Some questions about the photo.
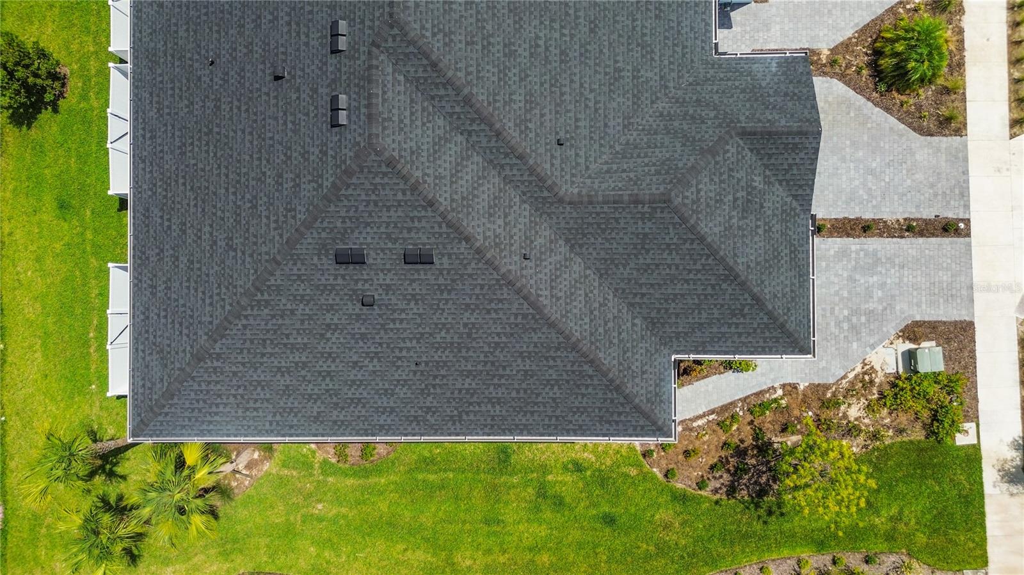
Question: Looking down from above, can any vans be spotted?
No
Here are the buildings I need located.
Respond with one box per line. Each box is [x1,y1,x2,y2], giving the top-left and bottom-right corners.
[126,0,821,444]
